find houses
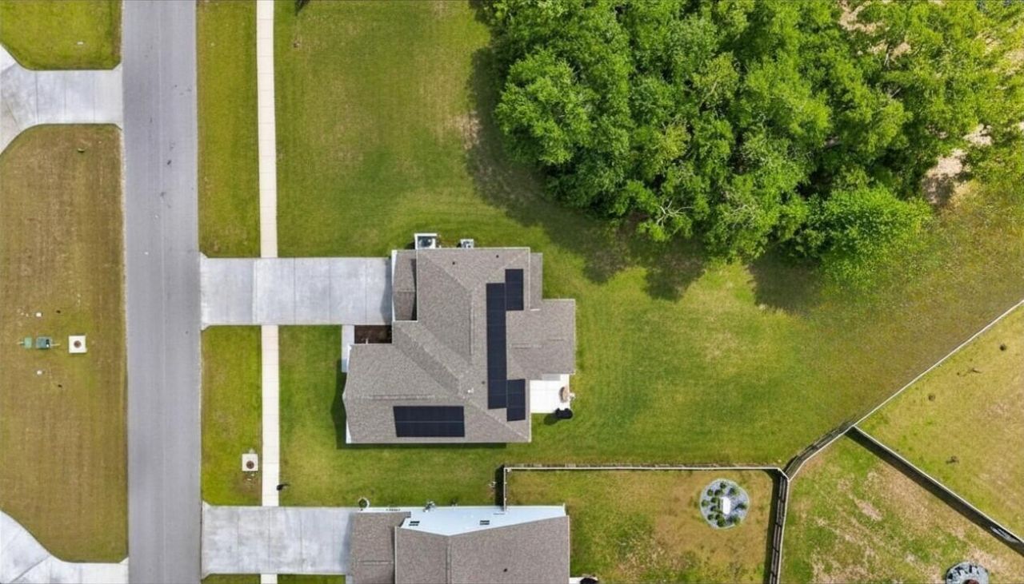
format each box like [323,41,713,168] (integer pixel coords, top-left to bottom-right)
[352,506,570,584]
[343,247,576,444]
